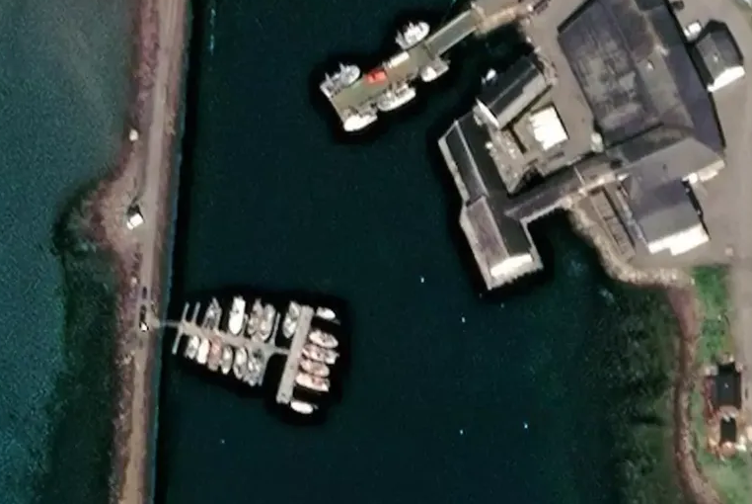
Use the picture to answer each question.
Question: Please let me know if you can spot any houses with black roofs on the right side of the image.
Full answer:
Yes, a house with a black roof appears on the right side of the image.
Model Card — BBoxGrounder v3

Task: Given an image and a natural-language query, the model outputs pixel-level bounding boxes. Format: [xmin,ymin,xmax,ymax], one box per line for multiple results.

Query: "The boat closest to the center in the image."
[316,307,337,320]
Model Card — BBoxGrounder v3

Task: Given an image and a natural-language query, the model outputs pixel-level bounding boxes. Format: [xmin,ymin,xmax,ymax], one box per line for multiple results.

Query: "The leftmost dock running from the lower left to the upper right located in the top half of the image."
[326,35,440,127]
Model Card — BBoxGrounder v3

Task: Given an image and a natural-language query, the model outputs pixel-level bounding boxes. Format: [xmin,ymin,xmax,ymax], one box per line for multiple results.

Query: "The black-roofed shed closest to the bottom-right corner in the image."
[722,418,736,446]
